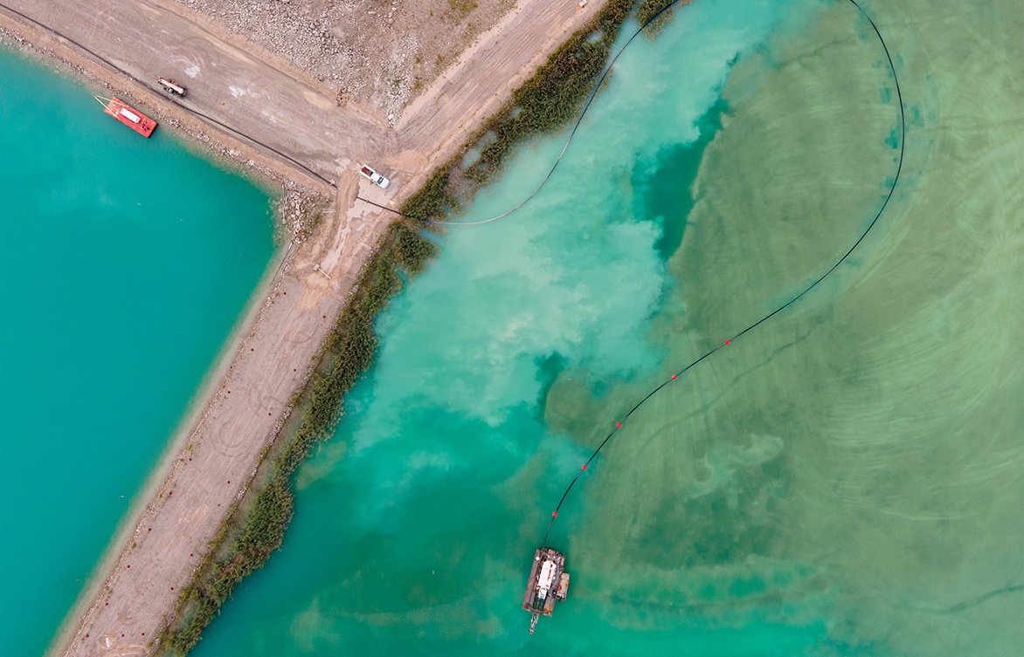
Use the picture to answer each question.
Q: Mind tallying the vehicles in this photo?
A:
2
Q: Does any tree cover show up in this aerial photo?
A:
No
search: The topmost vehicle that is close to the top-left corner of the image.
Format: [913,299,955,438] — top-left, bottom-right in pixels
[155,77,189,100]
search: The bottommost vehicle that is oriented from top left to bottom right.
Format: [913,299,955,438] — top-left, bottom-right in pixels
[359,163,391,191]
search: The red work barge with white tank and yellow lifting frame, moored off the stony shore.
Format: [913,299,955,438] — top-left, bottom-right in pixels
[92,94,160,139]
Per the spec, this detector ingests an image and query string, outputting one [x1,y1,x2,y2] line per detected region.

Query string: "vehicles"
[155,77,189,100]
[359,163,391,191]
